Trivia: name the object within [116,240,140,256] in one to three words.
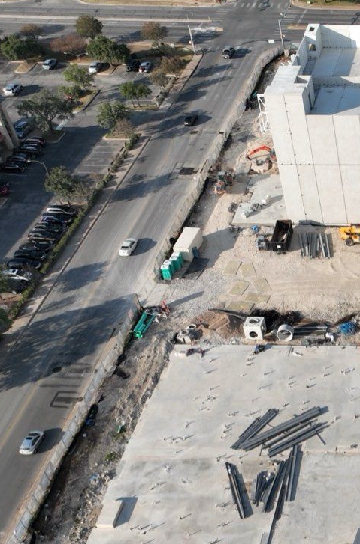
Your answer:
car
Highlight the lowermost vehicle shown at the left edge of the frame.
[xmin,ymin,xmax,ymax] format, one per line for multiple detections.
[14,428,48,456]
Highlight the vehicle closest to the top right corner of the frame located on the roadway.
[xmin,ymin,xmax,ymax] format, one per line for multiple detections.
[222,46,236,58]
